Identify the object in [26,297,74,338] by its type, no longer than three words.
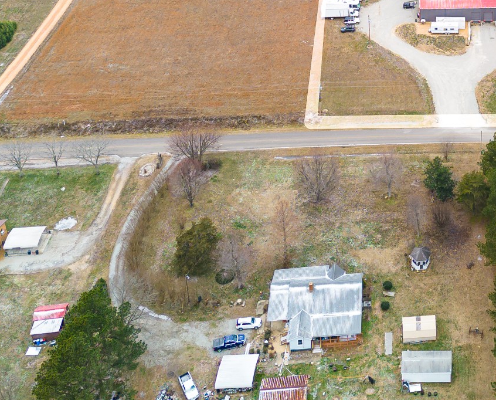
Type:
shed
